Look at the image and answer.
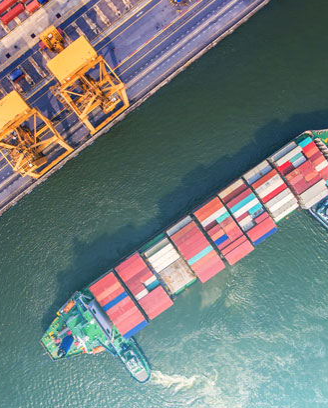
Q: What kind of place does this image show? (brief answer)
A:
port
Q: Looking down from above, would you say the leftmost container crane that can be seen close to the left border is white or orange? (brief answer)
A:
orange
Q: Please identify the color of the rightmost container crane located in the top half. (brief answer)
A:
orange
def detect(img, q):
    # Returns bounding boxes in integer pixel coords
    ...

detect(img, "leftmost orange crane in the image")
[0,88,84,189]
